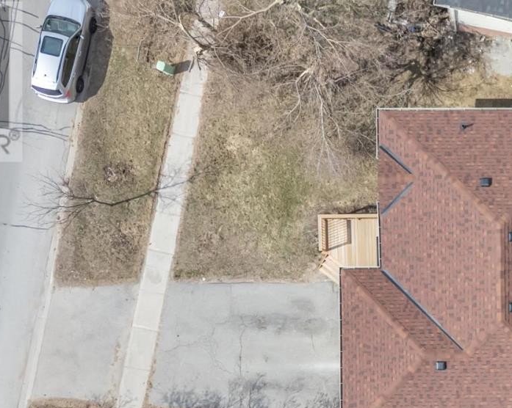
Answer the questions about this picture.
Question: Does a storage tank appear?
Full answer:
No, there appears to be no storage tank in this shot.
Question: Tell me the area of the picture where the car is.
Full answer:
Look in the top left portion of the view to spot the car.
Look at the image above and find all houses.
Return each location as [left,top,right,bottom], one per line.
[430,0,512,40]
[338,105,512,408]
